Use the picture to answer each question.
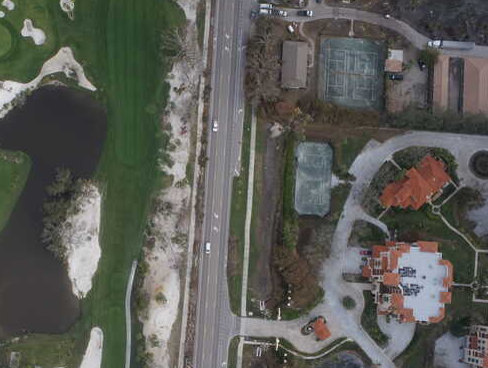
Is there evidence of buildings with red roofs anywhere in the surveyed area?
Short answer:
Yes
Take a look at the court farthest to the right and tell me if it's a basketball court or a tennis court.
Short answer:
tennis court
